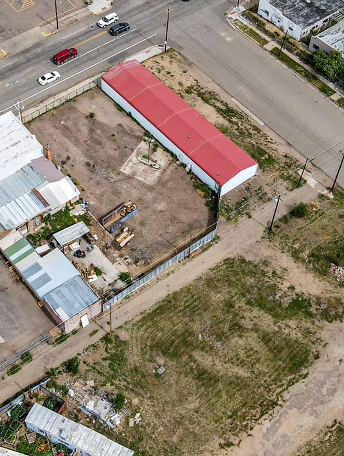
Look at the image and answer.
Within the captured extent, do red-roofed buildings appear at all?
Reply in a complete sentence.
Yes, you can see a red-roofed building in this photo.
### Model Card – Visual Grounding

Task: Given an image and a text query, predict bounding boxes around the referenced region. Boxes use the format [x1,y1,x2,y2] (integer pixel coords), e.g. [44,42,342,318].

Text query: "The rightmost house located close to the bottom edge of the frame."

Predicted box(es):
[24,403,134,456]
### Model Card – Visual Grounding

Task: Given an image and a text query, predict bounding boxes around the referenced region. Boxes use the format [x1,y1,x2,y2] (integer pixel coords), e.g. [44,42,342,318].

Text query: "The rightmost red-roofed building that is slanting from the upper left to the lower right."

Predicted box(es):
[98,59,256,200]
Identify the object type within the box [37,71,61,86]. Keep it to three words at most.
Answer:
car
